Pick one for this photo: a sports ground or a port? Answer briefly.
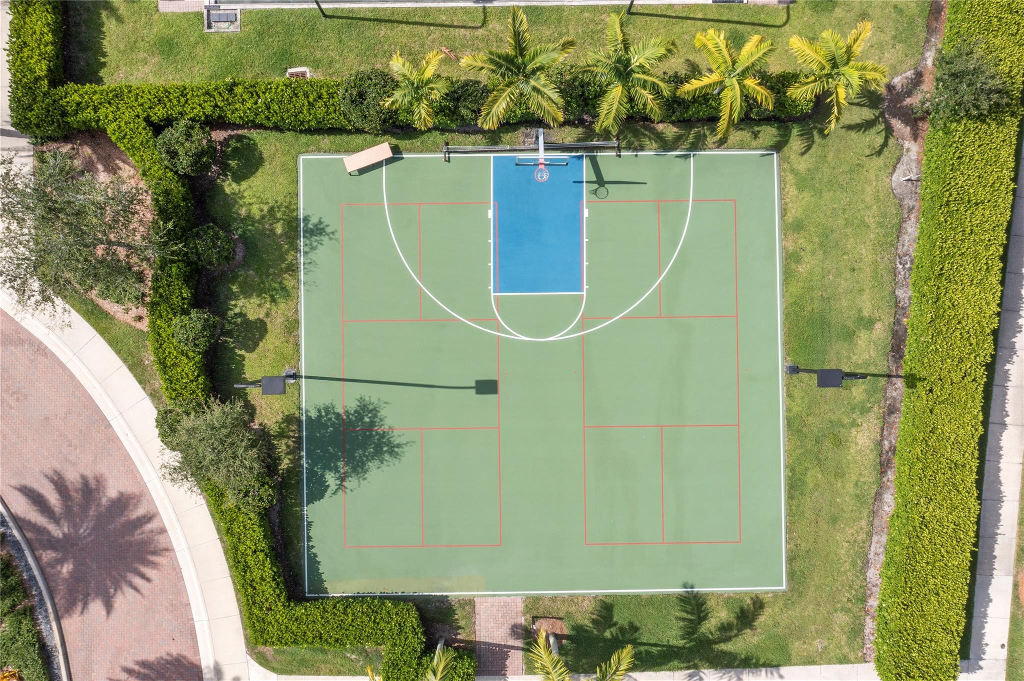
sports ground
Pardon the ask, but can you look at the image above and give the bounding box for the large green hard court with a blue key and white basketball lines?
[298,149,787,600]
